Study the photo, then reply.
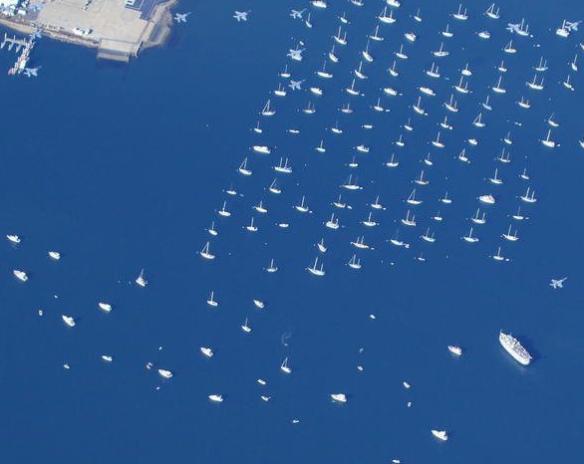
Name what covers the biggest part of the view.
water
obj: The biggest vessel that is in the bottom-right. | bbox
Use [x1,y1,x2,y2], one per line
[500,331,533,365]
